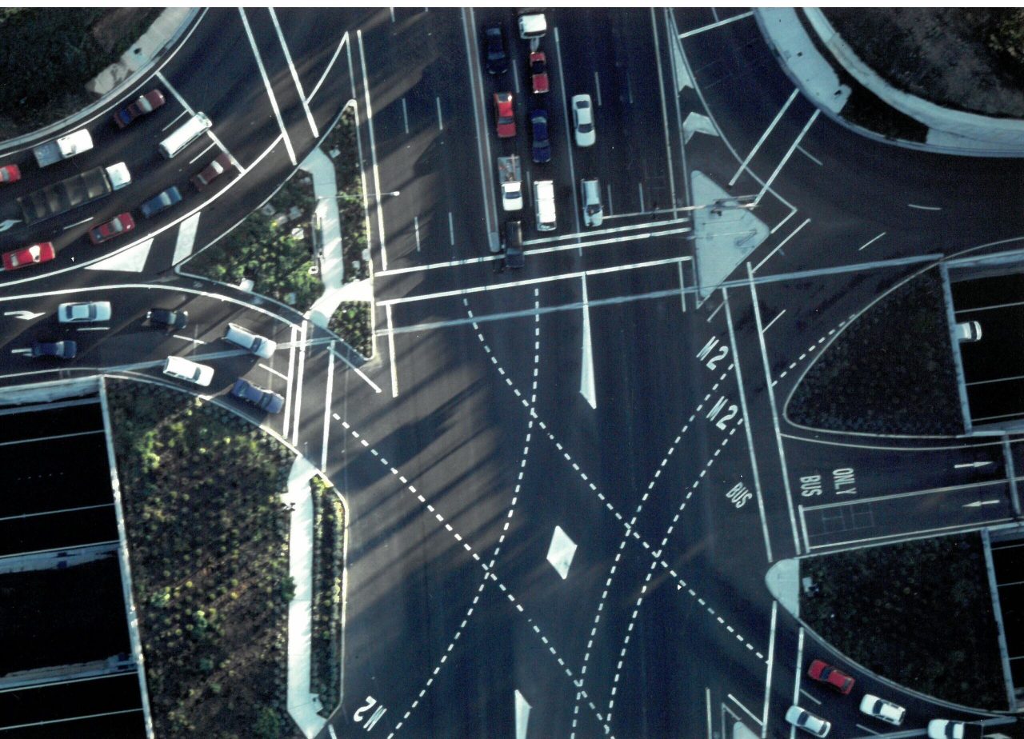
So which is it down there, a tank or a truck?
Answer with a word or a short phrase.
truck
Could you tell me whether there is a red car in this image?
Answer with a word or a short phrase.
Yes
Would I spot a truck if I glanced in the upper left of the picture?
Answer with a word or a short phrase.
Yes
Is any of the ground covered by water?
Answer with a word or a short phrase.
No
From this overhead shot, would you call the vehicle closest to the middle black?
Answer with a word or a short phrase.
Yes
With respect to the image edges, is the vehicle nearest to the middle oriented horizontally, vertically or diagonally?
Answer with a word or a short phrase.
vertically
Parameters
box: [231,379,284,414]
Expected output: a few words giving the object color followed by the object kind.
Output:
blue car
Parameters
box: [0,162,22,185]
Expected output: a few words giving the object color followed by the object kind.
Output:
red car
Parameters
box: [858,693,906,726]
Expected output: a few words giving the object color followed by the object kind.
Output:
white car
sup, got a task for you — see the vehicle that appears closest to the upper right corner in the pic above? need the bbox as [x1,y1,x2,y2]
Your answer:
[961,319,982,340]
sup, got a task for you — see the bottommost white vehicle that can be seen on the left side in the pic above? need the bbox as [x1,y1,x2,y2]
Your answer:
[163,355,215,385]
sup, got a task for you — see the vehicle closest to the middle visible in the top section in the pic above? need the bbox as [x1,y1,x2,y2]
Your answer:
[503,221,525,268]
